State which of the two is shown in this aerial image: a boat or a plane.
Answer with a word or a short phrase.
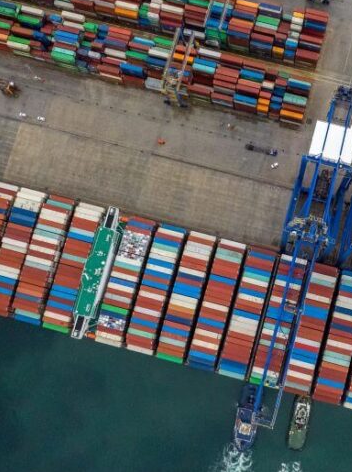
boat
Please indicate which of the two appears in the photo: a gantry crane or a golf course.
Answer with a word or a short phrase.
gantry crane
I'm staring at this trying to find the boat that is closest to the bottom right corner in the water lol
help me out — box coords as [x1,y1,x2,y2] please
[286,393,315,453]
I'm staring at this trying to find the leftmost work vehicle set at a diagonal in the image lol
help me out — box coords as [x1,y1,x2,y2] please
[0,74,19,93]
